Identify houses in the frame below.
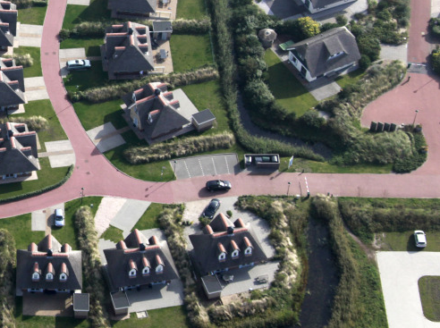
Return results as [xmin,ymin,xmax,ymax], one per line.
[300,0,340,15]
[100,21,155,75]
[108,0,157,17]
[103,228,179,292]
[287,27,358,83]
[191,212,267,276]
[0,58,28,111]
[17,234,84,294]
[0,0,22,51]
[0,122,41,179]
[122,82,192,141]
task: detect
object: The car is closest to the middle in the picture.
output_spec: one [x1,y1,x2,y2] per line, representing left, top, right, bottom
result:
[205,179,230,192]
